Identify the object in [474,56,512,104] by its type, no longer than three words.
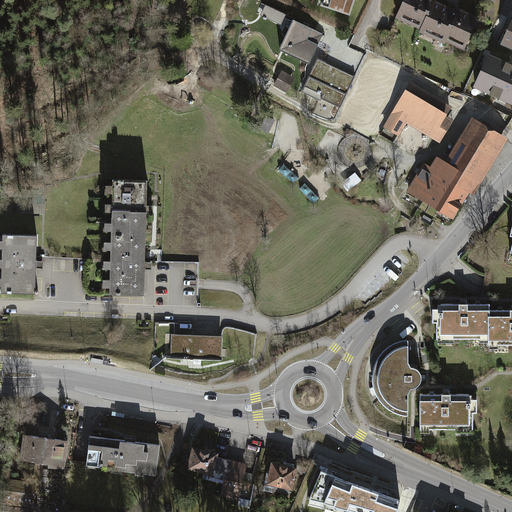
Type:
house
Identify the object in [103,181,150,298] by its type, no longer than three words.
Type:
building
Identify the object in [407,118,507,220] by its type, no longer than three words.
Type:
barn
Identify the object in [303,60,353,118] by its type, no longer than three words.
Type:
building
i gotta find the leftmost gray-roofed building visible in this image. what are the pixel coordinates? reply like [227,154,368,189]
[0,234,44,294]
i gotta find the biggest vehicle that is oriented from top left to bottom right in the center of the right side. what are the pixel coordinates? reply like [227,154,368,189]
[384,266,399,281]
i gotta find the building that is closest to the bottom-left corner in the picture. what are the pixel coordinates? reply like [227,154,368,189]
[21,434,68,468]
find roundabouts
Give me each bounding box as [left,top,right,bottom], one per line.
[274,360,344,430]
